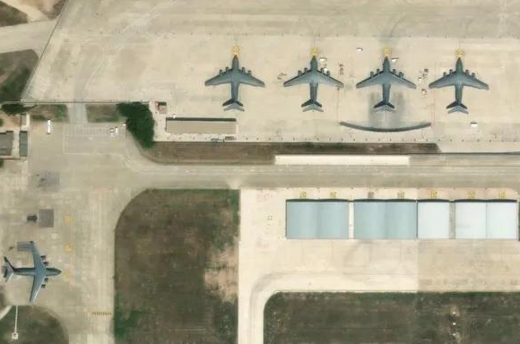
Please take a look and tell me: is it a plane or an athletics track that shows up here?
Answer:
plane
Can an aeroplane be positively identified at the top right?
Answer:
Yes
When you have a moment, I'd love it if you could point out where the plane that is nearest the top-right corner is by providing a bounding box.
[429,57,489,113]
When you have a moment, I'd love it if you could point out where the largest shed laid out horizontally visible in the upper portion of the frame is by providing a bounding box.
[166,121,236,133]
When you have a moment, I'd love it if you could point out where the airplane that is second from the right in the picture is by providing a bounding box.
[356,56,416,112]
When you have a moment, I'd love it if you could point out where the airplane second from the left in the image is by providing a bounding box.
[205,55,264,111]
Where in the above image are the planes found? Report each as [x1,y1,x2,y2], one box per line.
[205,55,264,111]
[429,57,489,113]
[356,56,416,112]
[6,242,62,301]
[284,56,343,112]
